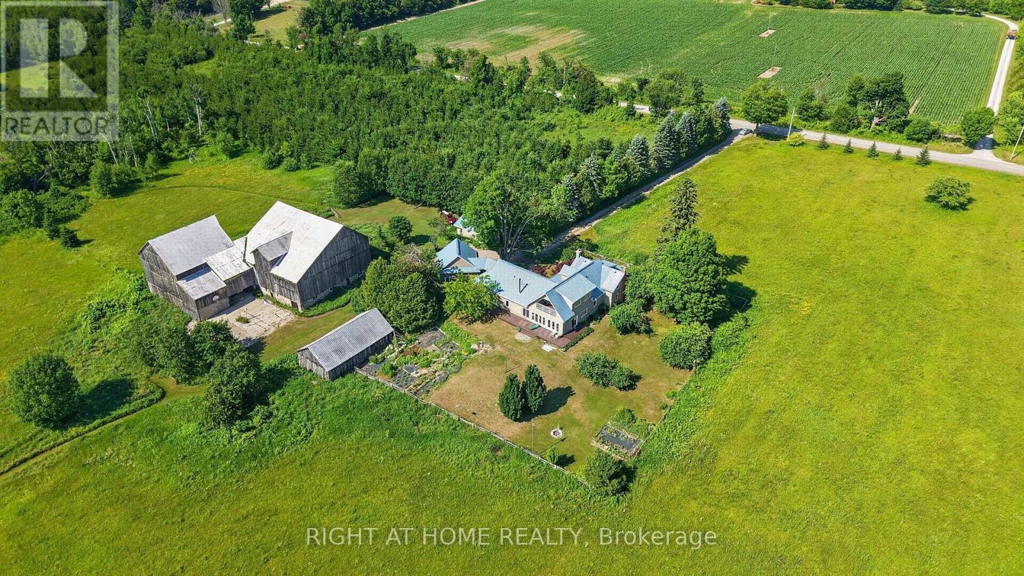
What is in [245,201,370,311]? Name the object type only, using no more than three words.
barn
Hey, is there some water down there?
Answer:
No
